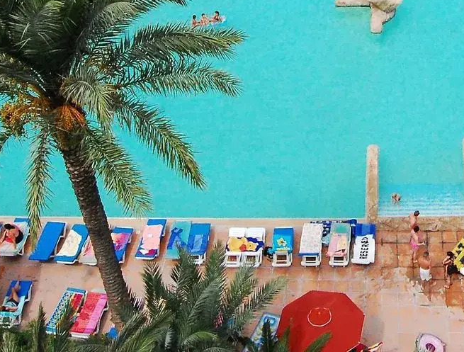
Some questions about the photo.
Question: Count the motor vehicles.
zero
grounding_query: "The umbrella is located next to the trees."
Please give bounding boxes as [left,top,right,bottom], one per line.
[276,291,365,352]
